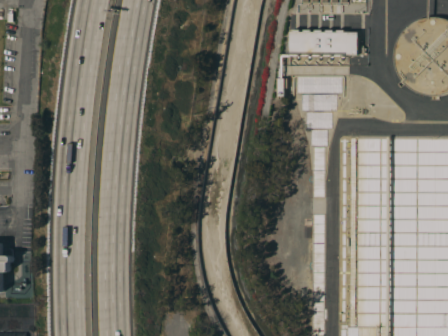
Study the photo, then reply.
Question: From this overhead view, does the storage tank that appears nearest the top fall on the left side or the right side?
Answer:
right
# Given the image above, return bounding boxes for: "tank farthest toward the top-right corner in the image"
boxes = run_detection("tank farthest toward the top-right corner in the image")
[393,19,448,97]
